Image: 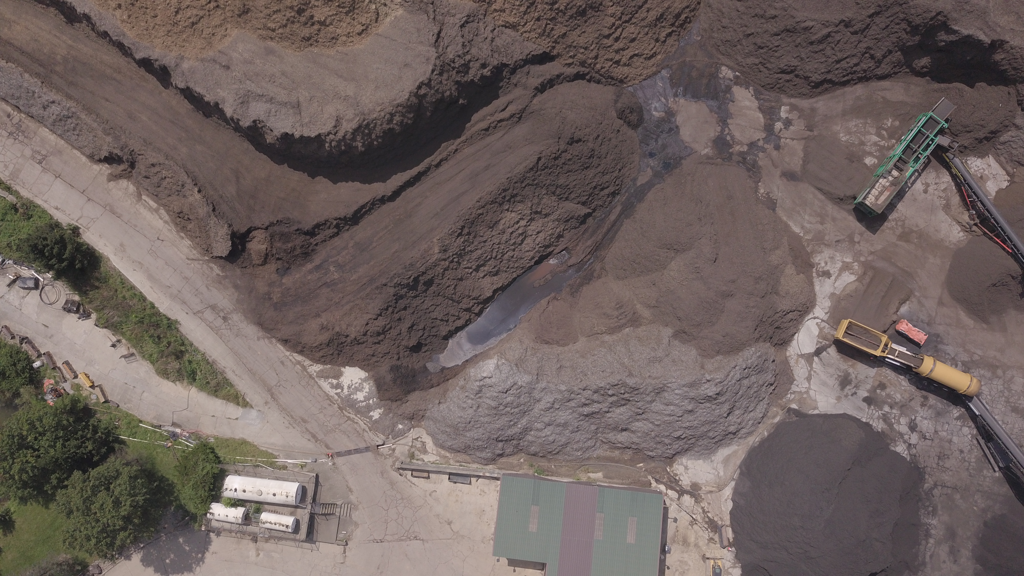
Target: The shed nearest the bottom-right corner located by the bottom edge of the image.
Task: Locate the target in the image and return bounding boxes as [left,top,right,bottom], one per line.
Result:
[492,456,674,576]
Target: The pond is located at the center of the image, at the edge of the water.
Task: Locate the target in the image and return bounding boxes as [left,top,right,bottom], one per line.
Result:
[424,248,602,374]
